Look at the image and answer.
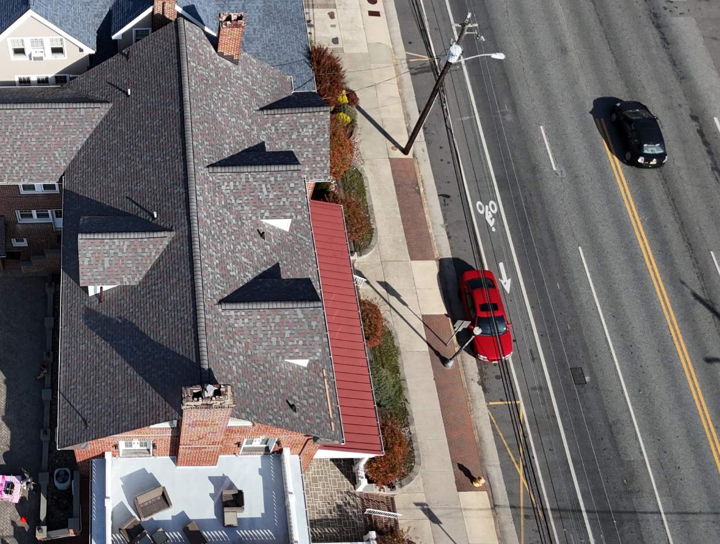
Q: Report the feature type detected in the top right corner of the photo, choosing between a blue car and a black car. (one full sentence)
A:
Looking in the top right corner of the photo, you will find a black car.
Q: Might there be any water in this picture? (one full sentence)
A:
No, no water is visible.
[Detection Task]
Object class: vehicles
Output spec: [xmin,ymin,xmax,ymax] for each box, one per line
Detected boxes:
[608,101,667,172]
[456,271,512,363]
